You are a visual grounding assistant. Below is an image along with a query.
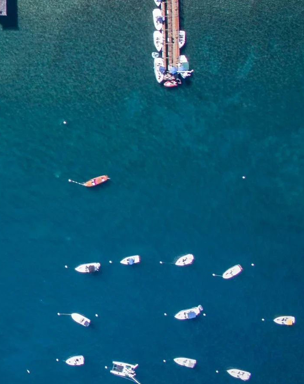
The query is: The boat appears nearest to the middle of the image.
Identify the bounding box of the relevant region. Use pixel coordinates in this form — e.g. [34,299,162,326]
[84,174,110,186]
